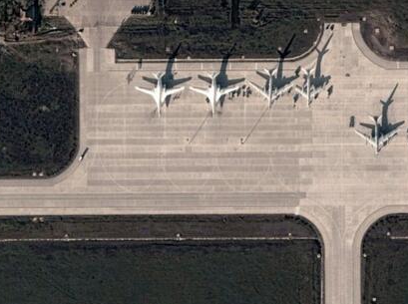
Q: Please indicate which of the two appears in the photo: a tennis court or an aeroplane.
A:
aeroplane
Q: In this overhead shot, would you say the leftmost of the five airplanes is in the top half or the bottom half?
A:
top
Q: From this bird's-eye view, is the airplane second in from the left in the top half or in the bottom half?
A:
top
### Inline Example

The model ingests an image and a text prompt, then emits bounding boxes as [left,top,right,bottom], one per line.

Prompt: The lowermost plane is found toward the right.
[356,113,399,154]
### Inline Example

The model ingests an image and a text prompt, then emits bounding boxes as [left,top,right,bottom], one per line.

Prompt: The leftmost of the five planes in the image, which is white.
[134,70,184,117]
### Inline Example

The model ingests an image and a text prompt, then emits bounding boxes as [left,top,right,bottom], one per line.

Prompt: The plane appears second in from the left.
[190,71,239,117]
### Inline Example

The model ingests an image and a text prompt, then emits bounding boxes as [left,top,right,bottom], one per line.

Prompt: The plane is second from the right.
[294,66,324,108]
